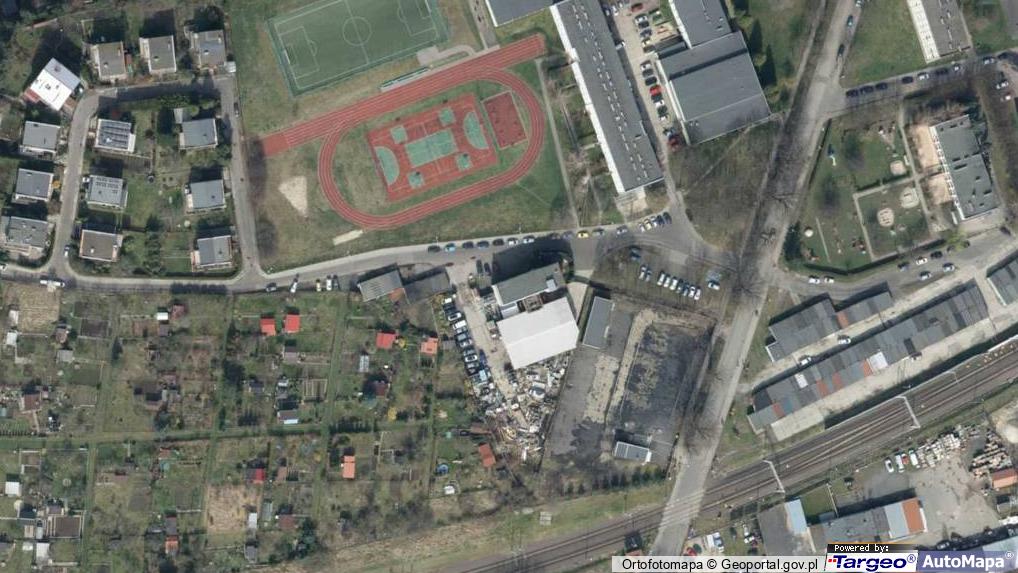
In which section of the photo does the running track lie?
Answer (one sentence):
The running track sits in the top section of the image.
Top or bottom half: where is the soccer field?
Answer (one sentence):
Seen from above, the soccer field lies in the top half of the view.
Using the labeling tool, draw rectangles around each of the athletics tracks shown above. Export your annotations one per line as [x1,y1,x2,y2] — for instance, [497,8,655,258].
[261,35,551,226]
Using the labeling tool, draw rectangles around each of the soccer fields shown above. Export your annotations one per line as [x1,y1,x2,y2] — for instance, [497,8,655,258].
[266,0,448,96]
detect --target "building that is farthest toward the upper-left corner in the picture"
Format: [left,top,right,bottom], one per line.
[25,58,81,111]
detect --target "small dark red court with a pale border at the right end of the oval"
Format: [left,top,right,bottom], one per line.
[480,91,527,150]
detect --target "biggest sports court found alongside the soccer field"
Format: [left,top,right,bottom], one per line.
[368,92,499,202]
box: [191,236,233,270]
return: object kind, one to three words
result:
house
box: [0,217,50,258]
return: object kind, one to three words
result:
house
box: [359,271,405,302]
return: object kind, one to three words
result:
shed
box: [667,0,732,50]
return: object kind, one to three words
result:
building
